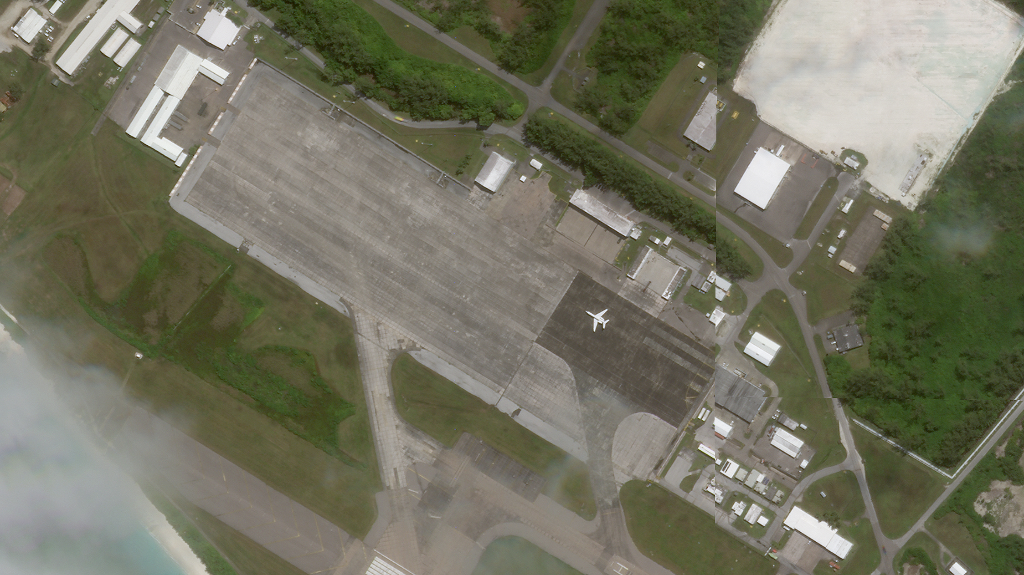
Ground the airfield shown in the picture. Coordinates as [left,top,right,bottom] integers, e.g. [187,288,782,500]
[100,61,716,575]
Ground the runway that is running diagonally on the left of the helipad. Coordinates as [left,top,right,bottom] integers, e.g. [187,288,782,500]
[100,403,415,575]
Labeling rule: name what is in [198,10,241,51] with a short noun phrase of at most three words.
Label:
building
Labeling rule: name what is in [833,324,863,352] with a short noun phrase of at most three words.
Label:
house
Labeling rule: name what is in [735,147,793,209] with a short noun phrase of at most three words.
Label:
hangar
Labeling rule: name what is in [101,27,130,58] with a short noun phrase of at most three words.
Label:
shed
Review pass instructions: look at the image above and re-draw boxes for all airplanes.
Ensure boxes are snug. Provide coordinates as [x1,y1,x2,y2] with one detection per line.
[586,310,609,332]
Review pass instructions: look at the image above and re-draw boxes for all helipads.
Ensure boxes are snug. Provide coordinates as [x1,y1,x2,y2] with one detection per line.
[604,555,638,575]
